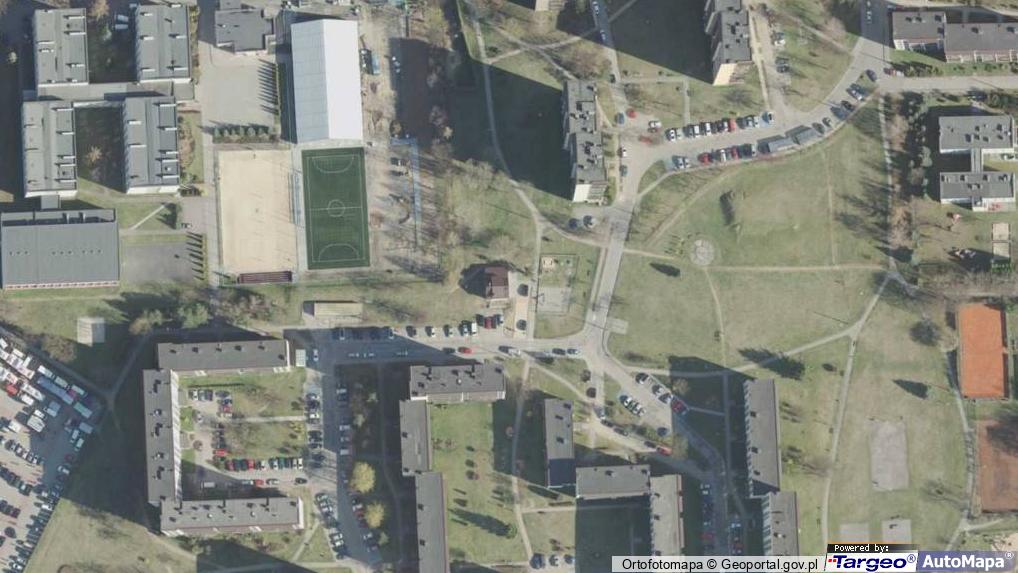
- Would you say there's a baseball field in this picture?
No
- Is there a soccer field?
Yes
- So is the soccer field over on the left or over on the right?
left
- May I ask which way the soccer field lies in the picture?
from top to bottom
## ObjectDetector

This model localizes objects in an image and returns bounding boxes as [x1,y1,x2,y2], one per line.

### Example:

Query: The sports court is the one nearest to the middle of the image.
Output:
[537,286,570,312]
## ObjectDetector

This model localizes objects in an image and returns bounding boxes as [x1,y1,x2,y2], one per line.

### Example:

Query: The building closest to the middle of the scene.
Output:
[485,266,510,299]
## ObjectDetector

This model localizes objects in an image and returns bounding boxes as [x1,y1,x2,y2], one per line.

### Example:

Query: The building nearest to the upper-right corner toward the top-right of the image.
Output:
[939,23,1018,61]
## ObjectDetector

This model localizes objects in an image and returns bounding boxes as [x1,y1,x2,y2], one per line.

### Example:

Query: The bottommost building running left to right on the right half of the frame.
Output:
[575,465,650,501]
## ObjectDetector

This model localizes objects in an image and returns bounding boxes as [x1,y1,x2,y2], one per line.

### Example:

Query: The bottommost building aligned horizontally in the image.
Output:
[161,498,304,535]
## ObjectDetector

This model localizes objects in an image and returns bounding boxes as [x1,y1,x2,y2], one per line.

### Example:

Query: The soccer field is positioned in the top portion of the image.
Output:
[302,147,370,269]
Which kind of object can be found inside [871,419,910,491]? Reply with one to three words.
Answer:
sports court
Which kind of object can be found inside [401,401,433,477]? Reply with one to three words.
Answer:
building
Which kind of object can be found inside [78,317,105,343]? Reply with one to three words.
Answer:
shed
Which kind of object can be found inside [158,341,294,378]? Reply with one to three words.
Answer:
building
